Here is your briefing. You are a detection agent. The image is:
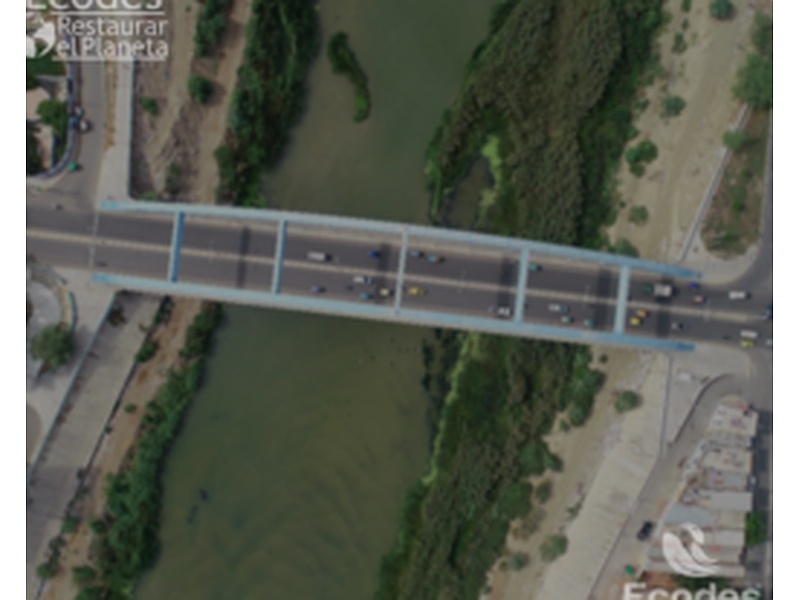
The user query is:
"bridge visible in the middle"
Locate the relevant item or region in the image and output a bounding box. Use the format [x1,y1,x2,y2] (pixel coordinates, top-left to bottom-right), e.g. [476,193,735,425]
[93,198,702,355]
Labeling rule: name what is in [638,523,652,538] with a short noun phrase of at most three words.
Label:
car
